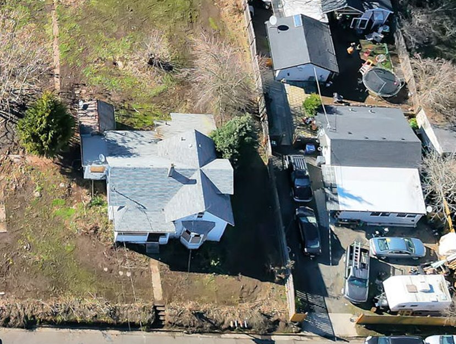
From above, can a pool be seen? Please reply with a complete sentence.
No, no pool is visible in the scene.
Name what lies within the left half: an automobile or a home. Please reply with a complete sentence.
What appears within the left half is a home.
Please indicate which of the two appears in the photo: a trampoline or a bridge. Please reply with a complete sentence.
It is a trampoline that can be seen here.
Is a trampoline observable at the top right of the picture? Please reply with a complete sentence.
Yes, there is a trampoline at the top right of the picture.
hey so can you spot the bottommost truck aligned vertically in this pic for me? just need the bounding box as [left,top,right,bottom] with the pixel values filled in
[343,237,372,309]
